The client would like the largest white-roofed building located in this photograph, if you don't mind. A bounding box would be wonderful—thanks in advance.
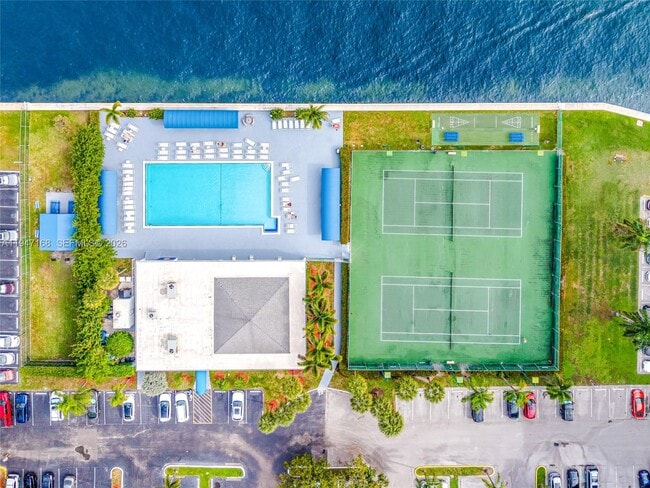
[135,258,306,371]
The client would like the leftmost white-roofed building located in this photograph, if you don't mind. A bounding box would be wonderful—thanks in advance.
[113,295,135,328]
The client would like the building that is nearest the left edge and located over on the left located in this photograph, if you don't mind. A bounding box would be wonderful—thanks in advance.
[40,213,81,251]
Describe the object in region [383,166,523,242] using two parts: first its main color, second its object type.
green tennis court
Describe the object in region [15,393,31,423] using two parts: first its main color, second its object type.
blue car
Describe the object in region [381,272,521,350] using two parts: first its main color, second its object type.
green tennis court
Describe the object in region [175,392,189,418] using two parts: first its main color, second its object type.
white car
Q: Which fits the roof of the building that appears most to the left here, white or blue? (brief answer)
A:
blue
